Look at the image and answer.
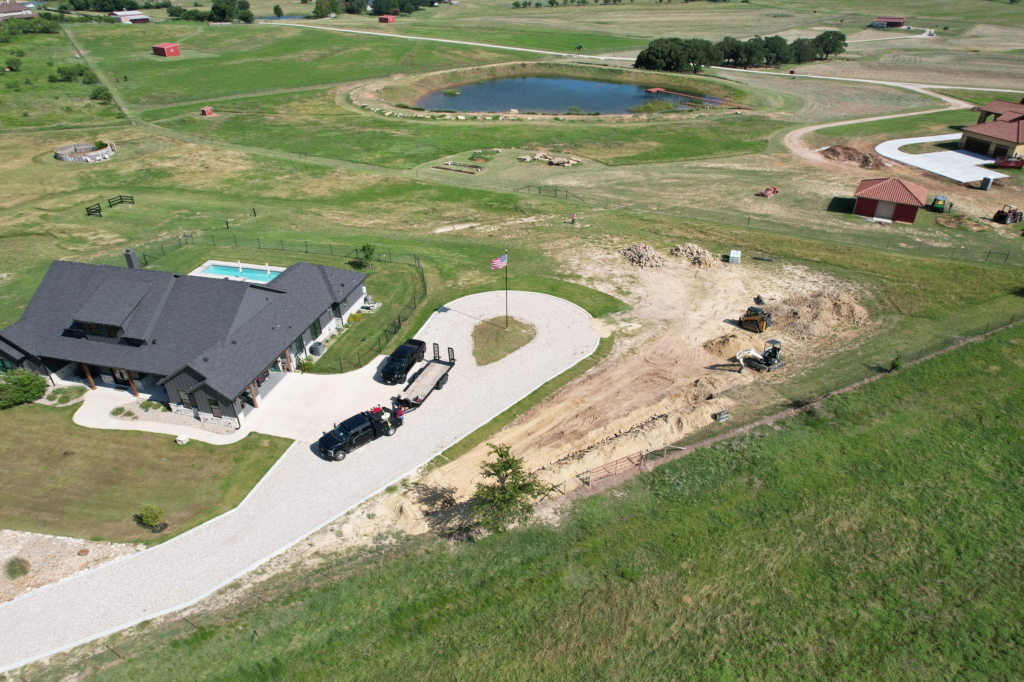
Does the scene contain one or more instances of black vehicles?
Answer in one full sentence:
Yes, you can see a black vehicle in this photo.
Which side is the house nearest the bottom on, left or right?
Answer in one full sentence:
The house nearest the bottom sits on the left side.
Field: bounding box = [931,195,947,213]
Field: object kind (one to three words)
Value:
vehicle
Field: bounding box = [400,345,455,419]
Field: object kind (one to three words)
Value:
trailer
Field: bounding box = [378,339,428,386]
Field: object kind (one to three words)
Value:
truck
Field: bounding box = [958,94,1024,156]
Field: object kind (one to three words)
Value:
house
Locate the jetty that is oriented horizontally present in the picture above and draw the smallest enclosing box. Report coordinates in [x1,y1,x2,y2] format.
[640,84,756,110]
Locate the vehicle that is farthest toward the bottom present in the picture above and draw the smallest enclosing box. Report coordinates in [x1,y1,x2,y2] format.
[315,405,407,463]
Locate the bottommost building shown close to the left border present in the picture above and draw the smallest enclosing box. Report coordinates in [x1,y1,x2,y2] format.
[0,244,369,431]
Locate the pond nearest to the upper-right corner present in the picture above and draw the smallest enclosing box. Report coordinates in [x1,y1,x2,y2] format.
[421,74,708,113]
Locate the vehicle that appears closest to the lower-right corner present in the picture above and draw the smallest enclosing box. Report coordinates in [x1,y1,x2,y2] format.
[736,338,789,375]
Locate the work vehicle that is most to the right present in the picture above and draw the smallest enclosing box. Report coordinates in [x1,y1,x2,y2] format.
[992,203,1024,224]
